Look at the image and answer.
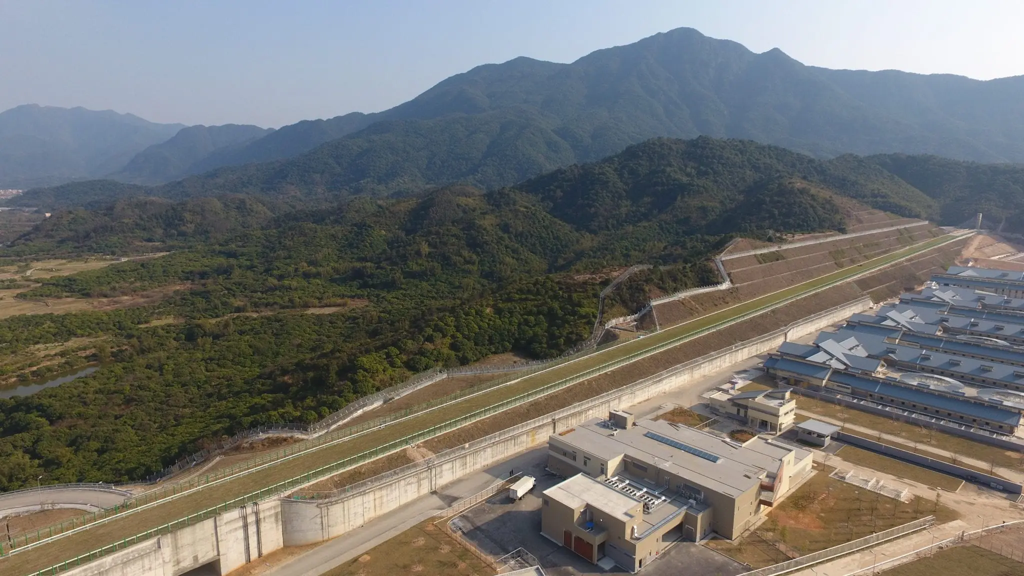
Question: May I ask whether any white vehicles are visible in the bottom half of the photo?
Yes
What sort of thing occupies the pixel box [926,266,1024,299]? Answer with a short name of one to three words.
building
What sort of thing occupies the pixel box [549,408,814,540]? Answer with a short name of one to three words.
building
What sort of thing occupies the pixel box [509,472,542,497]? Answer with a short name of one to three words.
truck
